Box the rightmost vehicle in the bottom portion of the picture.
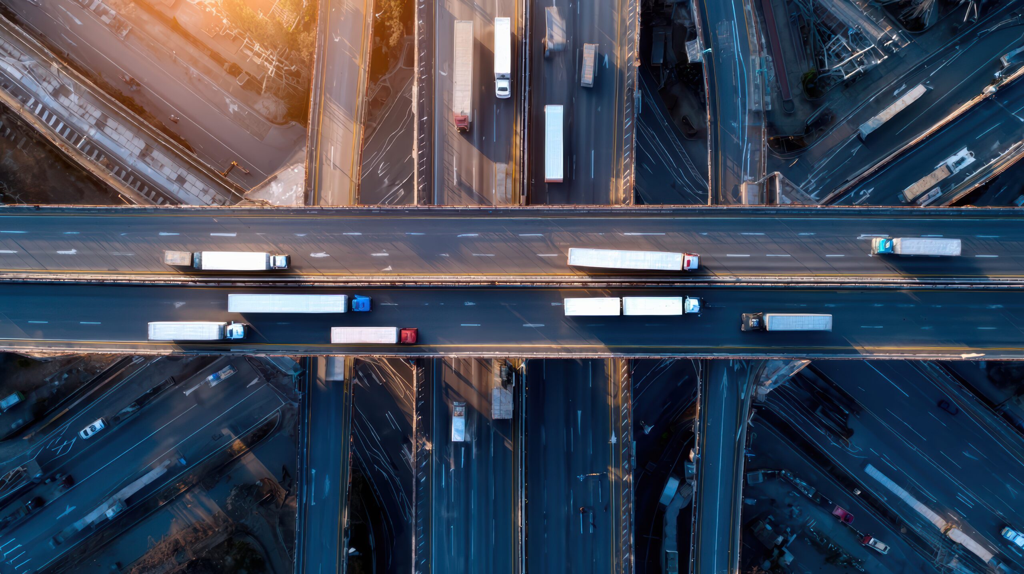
[999,525,1024,549]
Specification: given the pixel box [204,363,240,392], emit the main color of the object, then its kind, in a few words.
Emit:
blue truck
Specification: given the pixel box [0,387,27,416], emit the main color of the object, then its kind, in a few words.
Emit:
blue truck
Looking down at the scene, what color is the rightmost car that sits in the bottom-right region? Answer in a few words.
blue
